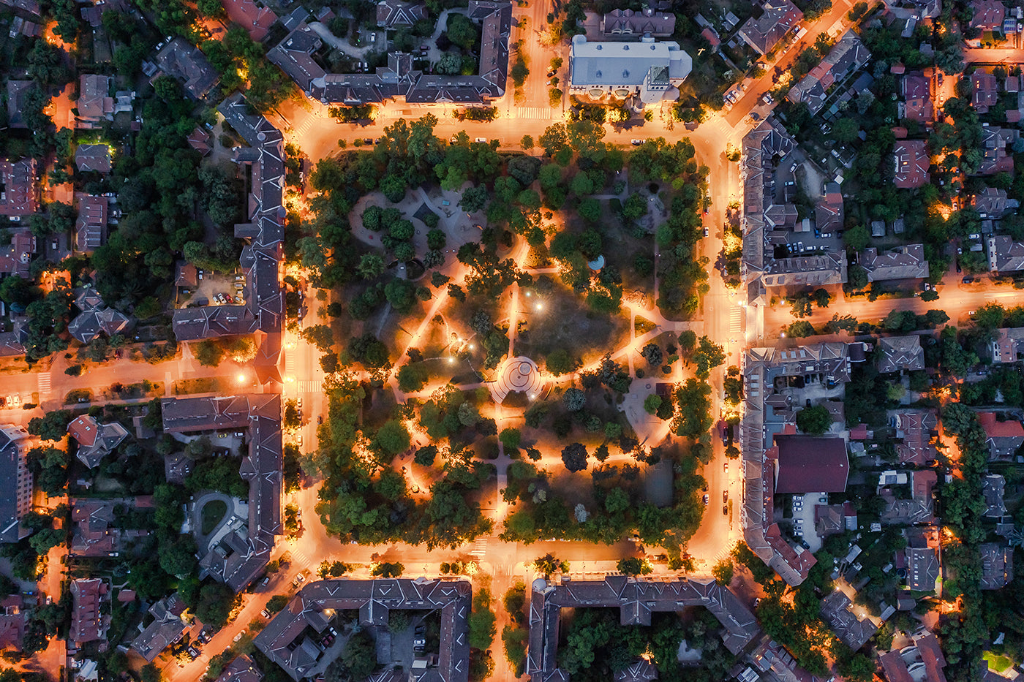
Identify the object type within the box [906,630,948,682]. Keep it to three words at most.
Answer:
house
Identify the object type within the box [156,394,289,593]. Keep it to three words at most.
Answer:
building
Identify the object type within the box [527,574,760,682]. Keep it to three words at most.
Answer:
building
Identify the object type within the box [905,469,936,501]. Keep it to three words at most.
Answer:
house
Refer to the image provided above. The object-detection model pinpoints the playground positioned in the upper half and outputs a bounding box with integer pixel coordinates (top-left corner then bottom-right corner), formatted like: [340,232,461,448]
[350,182,487,270]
